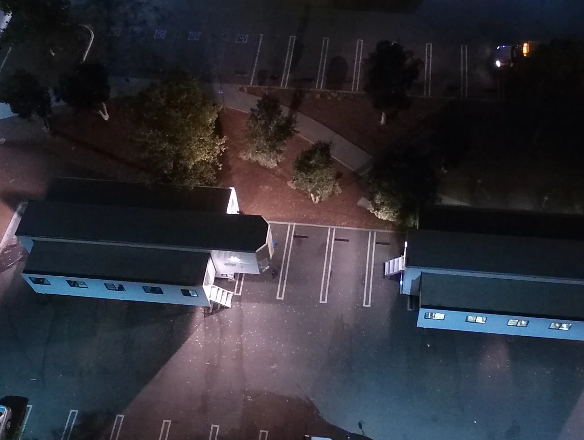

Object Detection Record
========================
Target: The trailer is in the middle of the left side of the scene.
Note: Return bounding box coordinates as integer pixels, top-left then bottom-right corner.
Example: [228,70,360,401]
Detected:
[19,177,275,308]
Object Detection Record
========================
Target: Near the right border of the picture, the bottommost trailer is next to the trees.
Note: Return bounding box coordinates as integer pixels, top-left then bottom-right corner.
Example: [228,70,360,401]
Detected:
[403,203,584,339]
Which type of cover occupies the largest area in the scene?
paved ground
